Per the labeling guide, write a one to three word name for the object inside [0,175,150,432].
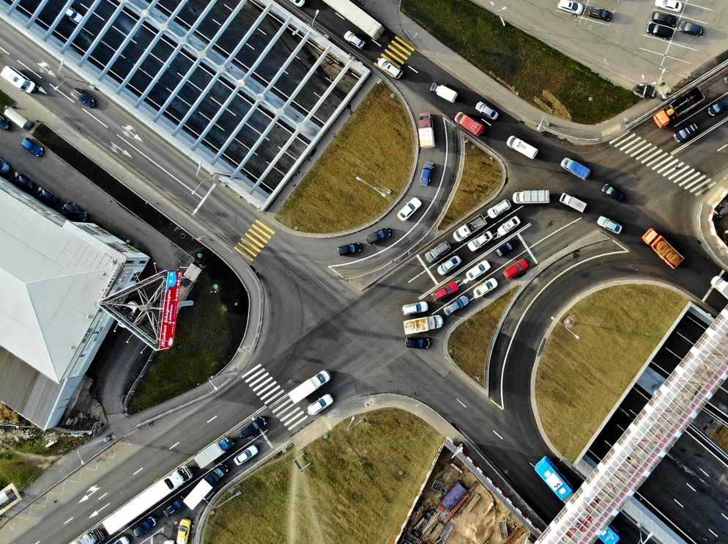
building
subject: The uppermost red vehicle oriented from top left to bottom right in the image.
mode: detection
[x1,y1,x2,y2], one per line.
[453,113,486,139]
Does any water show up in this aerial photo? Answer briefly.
No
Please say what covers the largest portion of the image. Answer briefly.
paved ground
